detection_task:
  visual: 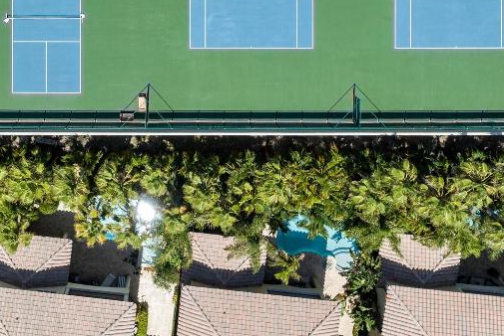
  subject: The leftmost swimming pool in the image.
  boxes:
[93,187,162,268]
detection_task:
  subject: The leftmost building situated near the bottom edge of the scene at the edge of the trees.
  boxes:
[0,232,136,336]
